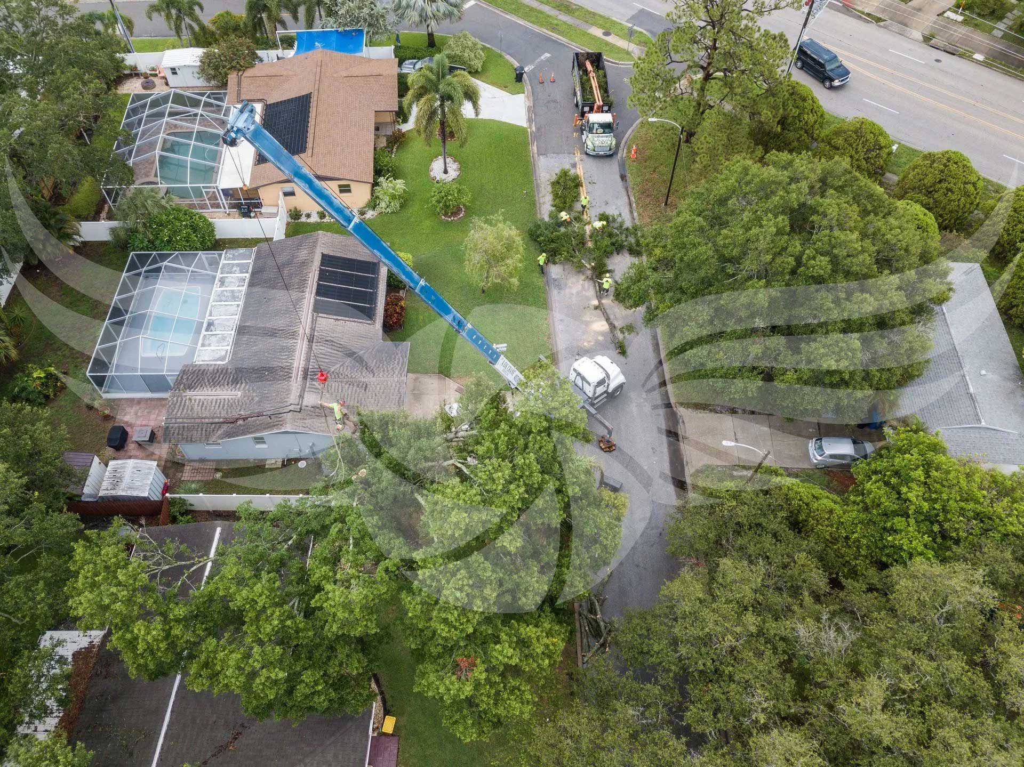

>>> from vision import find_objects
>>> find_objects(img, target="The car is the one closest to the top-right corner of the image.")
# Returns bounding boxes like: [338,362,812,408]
[789,35,857,90]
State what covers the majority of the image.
trees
